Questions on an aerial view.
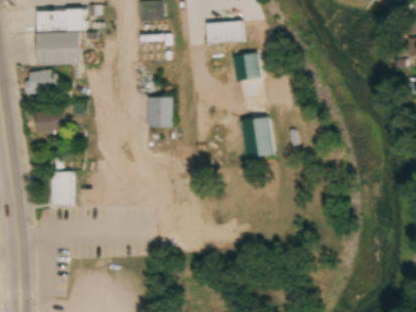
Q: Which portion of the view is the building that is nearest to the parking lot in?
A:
left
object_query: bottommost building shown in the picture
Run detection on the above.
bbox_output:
[50,172,78,206]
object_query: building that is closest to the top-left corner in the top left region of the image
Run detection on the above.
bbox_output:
[36,10,68,33]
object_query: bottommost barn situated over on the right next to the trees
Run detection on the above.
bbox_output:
[242,118,278,158]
